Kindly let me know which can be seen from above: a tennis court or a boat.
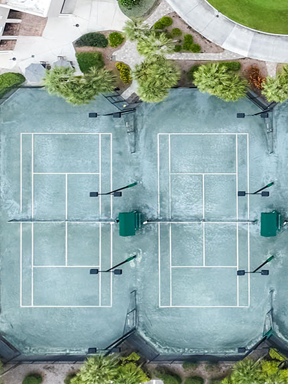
tennis court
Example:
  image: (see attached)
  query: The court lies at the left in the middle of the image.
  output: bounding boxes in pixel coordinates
[0,88,135,356]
